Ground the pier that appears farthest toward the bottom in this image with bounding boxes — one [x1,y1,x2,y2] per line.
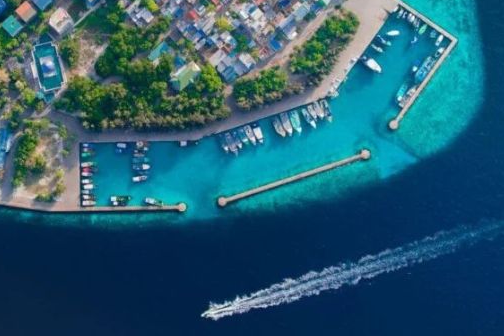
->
[79,200,189,215]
